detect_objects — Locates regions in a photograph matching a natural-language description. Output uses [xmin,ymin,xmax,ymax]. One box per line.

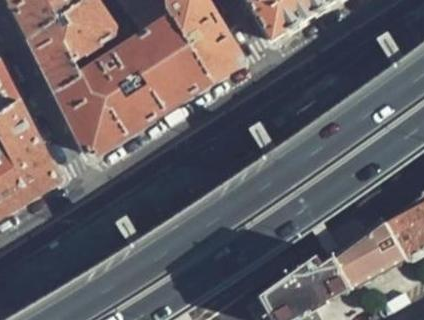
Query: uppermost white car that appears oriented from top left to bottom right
[232,28,246,44]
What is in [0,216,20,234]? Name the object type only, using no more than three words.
car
